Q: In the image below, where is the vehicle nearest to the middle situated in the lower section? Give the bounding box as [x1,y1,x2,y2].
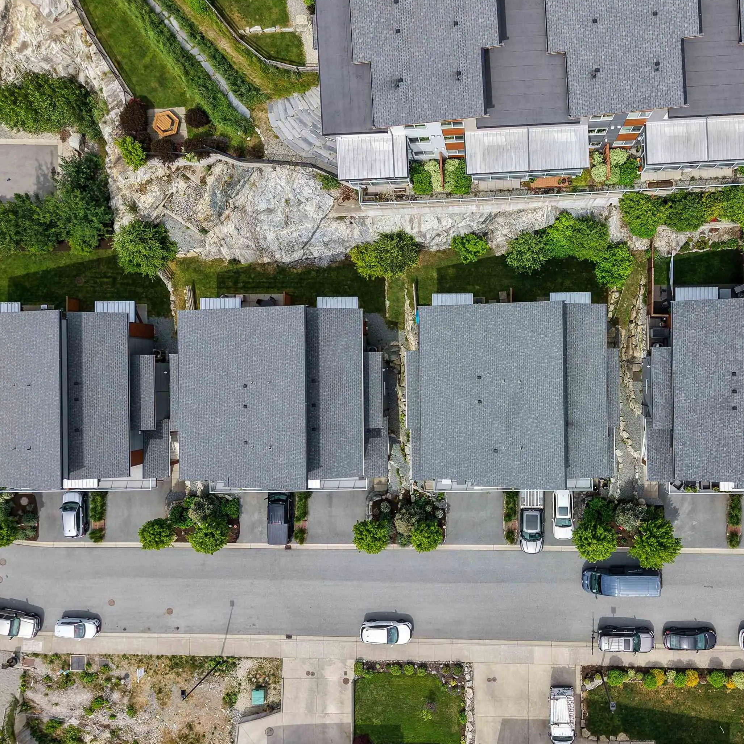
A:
[268,489,296,546]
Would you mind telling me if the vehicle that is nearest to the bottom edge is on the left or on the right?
right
